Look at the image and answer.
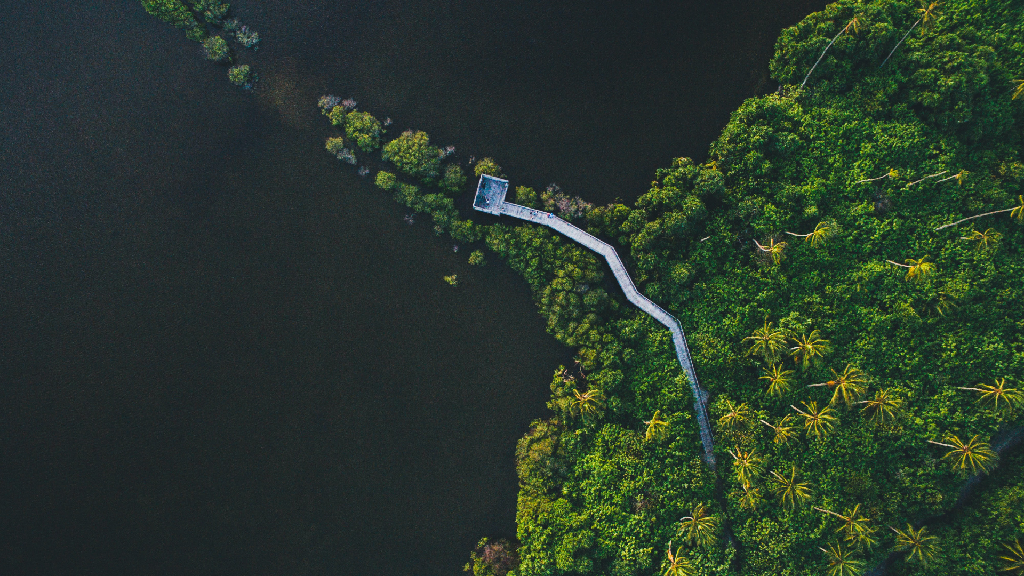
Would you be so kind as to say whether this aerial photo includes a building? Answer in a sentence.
No, no building can be seen from above.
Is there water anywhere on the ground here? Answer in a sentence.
Yes, water can be seen from above here.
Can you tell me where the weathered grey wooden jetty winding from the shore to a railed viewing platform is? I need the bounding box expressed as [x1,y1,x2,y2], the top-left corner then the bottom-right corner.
[473,174,719,460]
